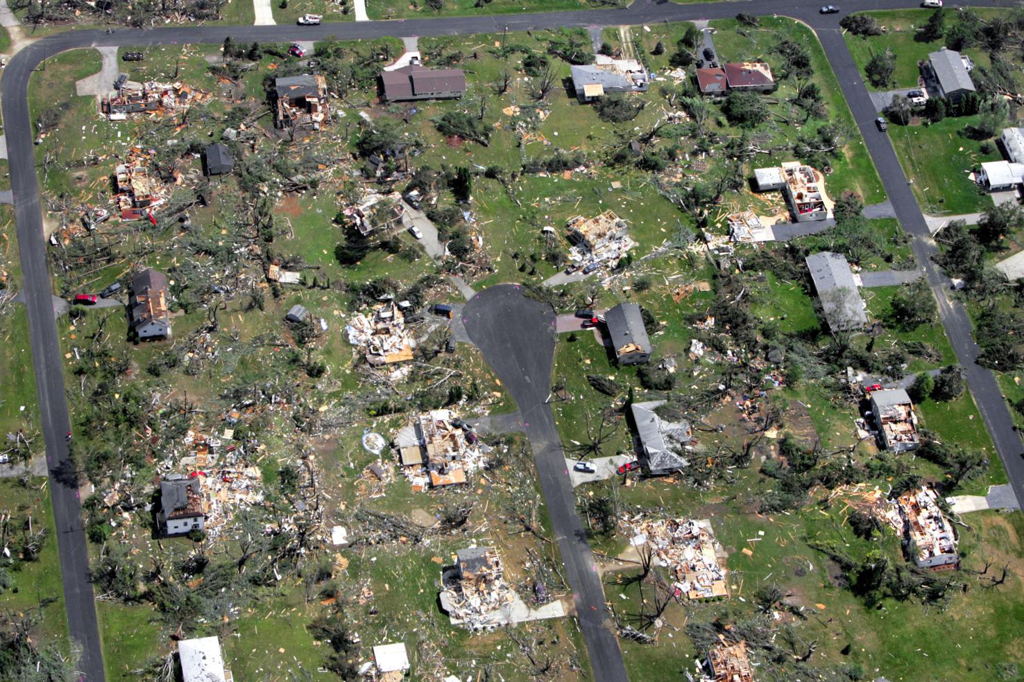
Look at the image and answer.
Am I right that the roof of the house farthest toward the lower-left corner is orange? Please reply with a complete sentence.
No, the roof of the house farthest toward the lower-left corner is actually white.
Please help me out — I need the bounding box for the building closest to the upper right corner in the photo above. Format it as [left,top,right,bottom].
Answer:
[928,45,976,100]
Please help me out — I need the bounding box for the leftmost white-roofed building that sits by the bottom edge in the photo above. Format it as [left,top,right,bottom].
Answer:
[178,636,235,682]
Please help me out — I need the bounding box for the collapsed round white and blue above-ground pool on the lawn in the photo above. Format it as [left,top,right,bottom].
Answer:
[362,432,385,453]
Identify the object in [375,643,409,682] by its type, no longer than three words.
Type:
shed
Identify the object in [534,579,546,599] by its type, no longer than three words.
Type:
vehicle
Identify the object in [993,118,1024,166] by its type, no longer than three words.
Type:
house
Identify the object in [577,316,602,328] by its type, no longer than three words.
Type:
vehicle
